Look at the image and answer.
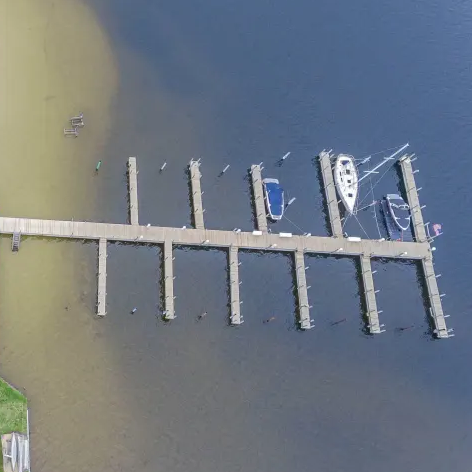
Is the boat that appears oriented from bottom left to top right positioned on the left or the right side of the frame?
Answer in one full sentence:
The boat that appears oriented from bottom left to top right is on the right side of the image.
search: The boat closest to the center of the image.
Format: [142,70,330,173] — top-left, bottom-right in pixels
[262,178,284,221]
